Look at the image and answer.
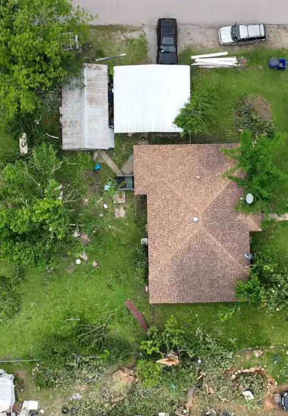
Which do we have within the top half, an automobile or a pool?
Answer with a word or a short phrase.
automobile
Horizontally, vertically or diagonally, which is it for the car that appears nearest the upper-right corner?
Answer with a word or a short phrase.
horizontally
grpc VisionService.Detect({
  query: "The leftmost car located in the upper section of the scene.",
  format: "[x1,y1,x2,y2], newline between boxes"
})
[155,16,180,65]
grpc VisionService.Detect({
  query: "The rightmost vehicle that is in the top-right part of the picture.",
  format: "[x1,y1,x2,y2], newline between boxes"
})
[216,25,267,48]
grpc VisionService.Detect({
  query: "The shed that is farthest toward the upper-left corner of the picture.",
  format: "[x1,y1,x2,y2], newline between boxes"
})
[59,63,113,150]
